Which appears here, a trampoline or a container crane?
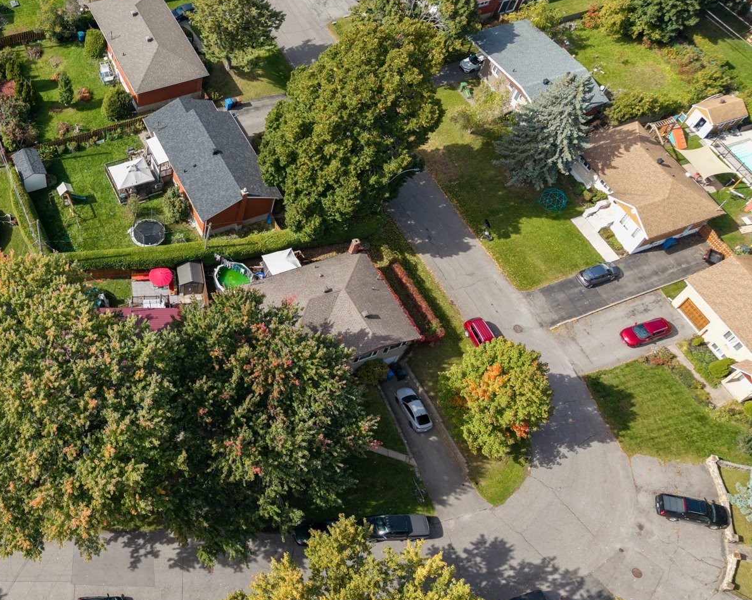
trampoline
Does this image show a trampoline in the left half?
Yes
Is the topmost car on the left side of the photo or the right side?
left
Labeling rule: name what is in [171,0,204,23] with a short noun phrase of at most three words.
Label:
car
